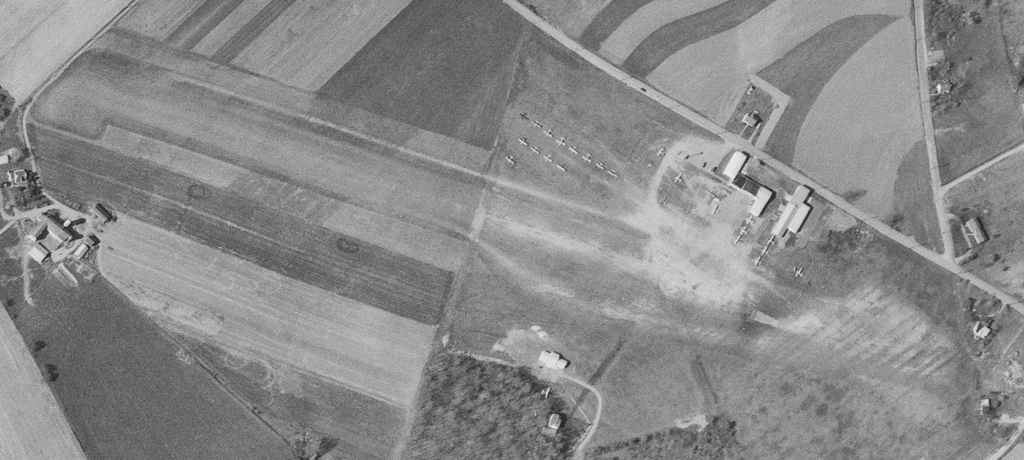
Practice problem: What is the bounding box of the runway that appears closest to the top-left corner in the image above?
[34,52,486,240]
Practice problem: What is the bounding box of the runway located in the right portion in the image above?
[443,182,795,352]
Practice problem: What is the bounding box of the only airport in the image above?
[34,29,795,352]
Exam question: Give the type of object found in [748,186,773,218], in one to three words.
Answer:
hangar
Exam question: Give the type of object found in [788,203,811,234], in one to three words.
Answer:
hangar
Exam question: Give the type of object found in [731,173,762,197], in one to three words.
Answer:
building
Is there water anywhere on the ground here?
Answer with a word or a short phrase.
No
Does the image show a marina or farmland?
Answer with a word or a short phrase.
farmland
